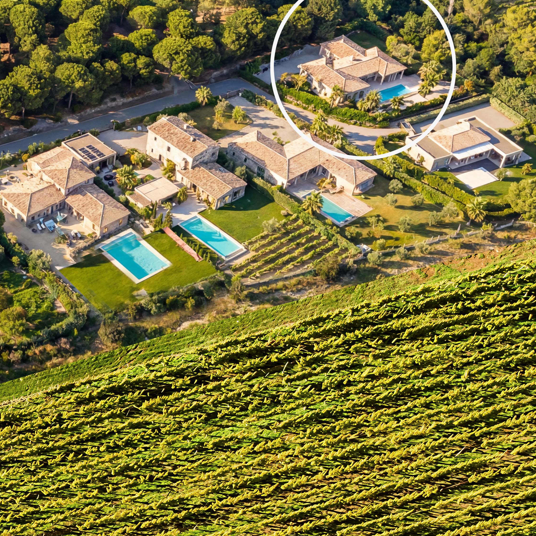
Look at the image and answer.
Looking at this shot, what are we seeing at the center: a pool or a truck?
pool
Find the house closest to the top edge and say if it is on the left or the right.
right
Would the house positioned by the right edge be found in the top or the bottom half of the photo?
top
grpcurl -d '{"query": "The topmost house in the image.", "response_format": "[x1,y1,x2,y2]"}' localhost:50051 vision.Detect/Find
[301,37,409,103]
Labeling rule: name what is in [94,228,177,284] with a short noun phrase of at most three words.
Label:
swimming pool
